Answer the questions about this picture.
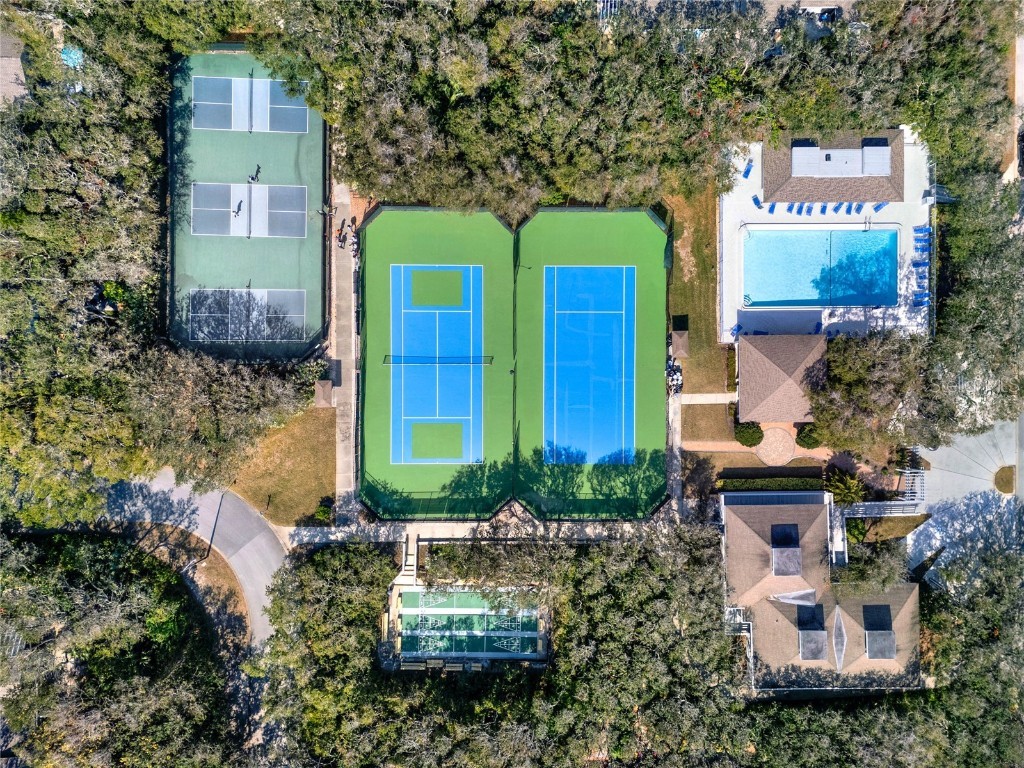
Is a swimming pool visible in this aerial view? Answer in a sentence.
Yes, a swimming pool is visible in the scene.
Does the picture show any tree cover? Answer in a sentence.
Yes, tree cover shows up in the scene.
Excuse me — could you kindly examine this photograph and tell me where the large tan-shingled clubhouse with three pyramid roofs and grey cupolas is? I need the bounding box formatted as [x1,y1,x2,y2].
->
[724,504,919,689]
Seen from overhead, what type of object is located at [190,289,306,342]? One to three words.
sports court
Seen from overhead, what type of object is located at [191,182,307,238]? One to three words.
sports court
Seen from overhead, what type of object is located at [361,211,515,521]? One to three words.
tennis court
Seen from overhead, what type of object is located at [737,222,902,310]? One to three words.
swimming pool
